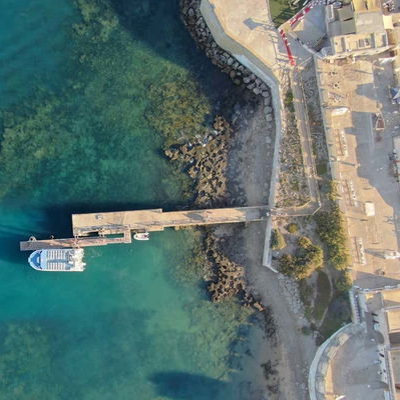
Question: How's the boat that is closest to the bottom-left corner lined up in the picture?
from left to right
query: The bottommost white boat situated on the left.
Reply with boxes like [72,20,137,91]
[29,248,86,272]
